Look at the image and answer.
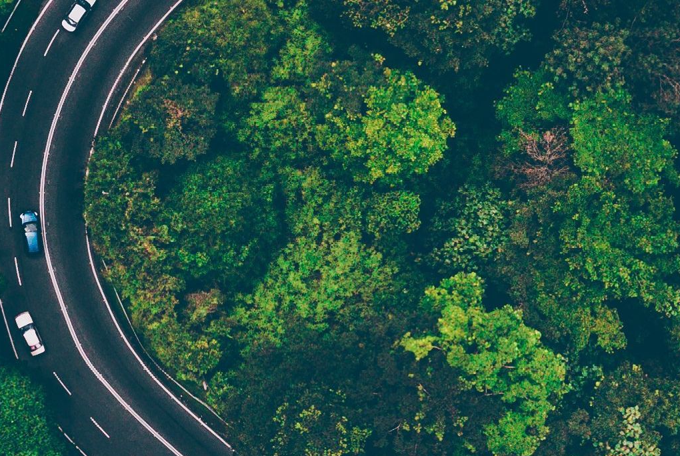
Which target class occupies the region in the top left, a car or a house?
car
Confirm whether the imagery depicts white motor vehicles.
Yes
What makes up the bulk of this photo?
trees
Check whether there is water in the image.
No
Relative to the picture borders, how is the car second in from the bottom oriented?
from top to bottom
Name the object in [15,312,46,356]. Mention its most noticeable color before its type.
white car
